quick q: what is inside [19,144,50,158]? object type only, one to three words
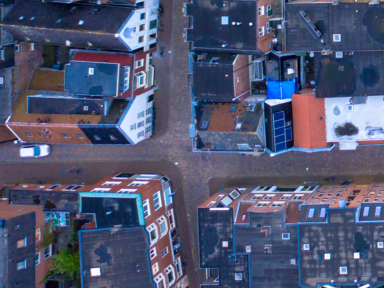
car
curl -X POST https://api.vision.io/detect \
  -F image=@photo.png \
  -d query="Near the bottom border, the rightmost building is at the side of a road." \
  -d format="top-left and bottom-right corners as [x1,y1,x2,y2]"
[298,182,384,288]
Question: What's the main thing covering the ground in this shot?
buildings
